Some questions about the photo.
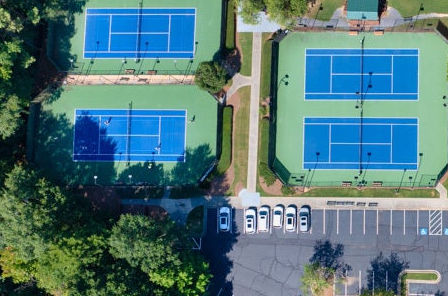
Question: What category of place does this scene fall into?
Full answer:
This image shows a sports ground.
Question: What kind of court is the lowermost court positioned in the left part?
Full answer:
Specifically, the lowermost court positioned in the left part is a tennis court.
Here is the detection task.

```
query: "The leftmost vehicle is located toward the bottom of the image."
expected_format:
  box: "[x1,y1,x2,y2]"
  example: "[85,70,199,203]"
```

[219,207,231,231]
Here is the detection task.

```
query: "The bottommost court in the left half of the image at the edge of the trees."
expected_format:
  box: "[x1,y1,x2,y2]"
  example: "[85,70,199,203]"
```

[34,85,212,185]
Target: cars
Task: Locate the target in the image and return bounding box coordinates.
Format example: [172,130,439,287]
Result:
[245,210,257,234]
[299,207,310,231]
[219,207,231,231]
[274,206,284,228]
[285,207,297,231]
[258,206,270,231]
